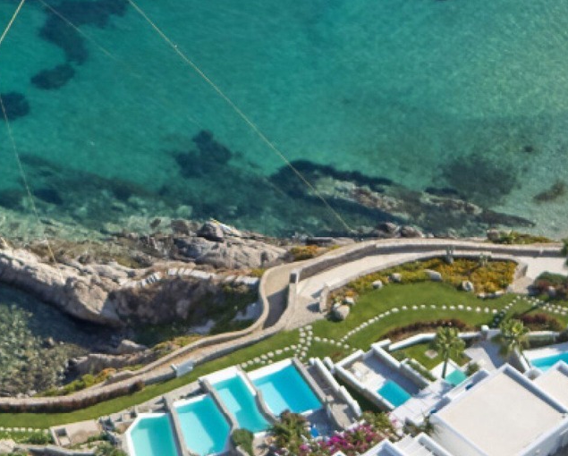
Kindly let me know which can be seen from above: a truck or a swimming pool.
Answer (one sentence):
It is a swimming pool that can be seen here.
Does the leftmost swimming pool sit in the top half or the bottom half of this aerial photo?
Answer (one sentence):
Seen from above, the leftmost swimming pool lies in the bottom half of the view.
